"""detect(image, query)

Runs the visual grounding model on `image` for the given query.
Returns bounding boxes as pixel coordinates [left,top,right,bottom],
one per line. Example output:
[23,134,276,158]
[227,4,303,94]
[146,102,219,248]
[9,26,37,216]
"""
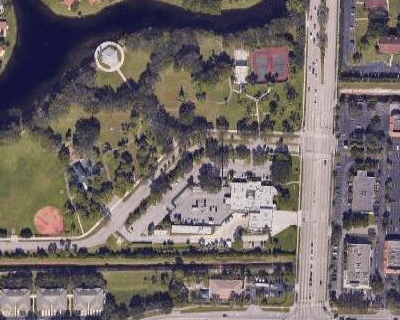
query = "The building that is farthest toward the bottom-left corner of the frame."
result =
[0,288,30,315]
